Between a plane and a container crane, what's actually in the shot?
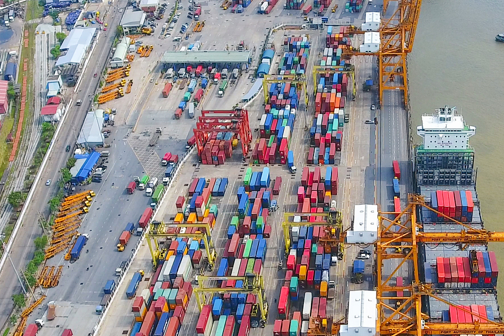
container crane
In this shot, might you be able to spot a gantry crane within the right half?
Yes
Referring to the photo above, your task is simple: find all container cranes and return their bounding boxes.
[279,282,504,336]
[146,217,215,272]
[194,118,246,163]
[201,105,249,149]
[331,0,415,82]
[263,70,310,106]
[312,60,357,99]
[295,193,504,322]
[195,268,267,324]
[327,0,422,110]
[282,208,344,261]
